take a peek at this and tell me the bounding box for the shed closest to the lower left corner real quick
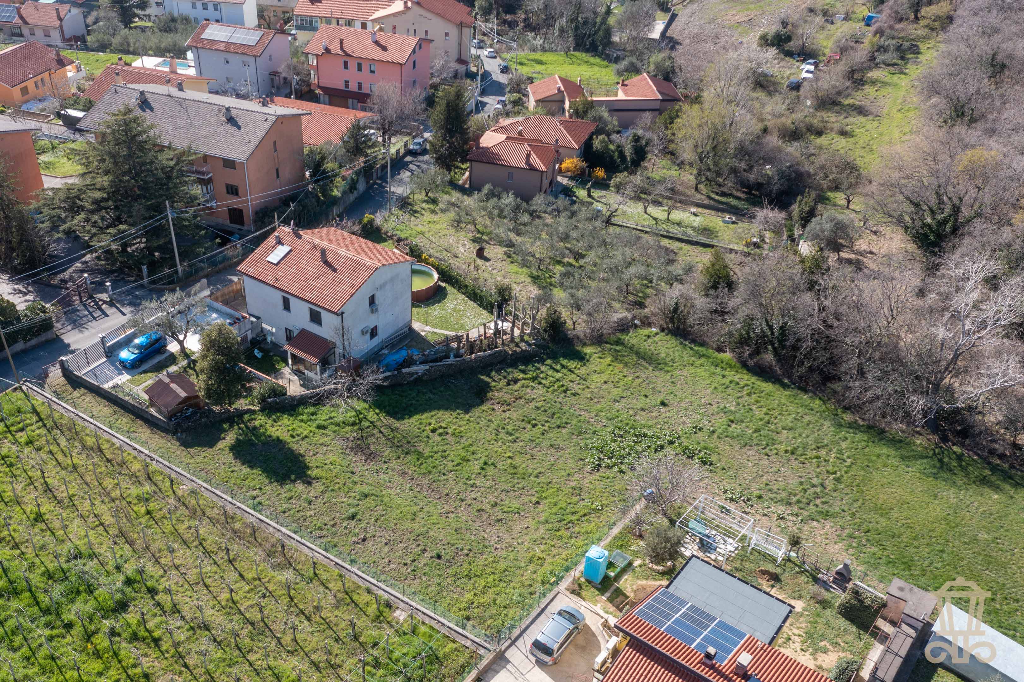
[144,375,207,428]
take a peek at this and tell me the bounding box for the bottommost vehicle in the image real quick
[532,610,591,666]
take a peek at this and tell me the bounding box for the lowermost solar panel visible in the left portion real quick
[262,241,294,266]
